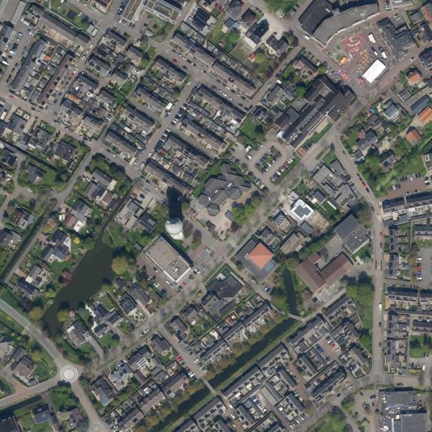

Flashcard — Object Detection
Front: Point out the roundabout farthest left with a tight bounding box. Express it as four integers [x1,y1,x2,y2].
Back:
[54,359,83,388]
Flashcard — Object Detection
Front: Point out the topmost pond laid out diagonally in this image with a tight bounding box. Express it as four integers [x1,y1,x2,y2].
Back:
[45,239,113,329]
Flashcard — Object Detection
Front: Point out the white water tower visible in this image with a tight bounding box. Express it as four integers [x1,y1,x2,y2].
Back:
[165,219,185,243]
